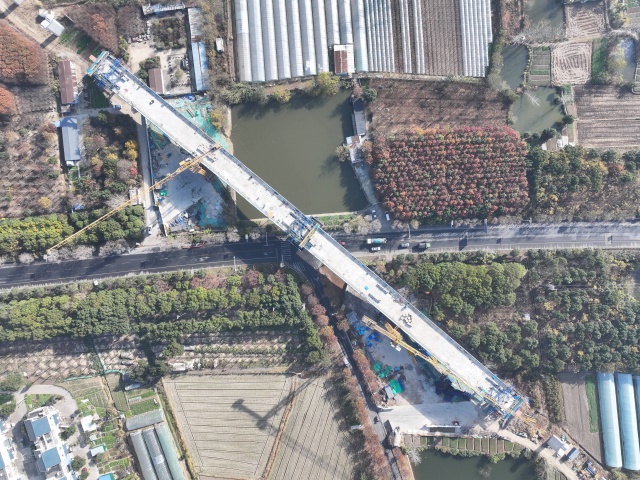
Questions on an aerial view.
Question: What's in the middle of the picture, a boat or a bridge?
bridge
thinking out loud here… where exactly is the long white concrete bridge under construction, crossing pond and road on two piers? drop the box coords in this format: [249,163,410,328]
[93,53,521,416]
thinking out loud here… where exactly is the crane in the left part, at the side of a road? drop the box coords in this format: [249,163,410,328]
[46,142,226,254]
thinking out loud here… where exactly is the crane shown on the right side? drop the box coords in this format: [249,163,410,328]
[362,311,507,413]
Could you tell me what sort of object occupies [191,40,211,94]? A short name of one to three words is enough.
shed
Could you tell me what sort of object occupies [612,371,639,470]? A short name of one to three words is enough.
greenhouse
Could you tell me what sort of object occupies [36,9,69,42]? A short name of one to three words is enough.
building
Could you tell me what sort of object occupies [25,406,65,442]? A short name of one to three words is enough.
house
